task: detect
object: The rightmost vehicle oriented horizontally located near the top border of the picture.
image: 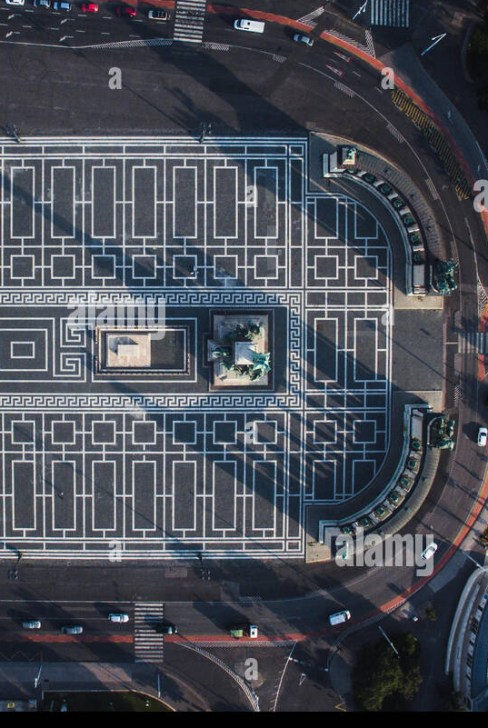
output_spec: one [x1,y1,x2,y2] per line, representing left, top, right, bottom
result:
[293,35,315,47]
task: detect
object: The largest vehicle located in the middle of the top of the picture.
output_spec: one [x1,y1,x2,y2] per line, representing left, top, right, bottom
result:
[234,18,264,33]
